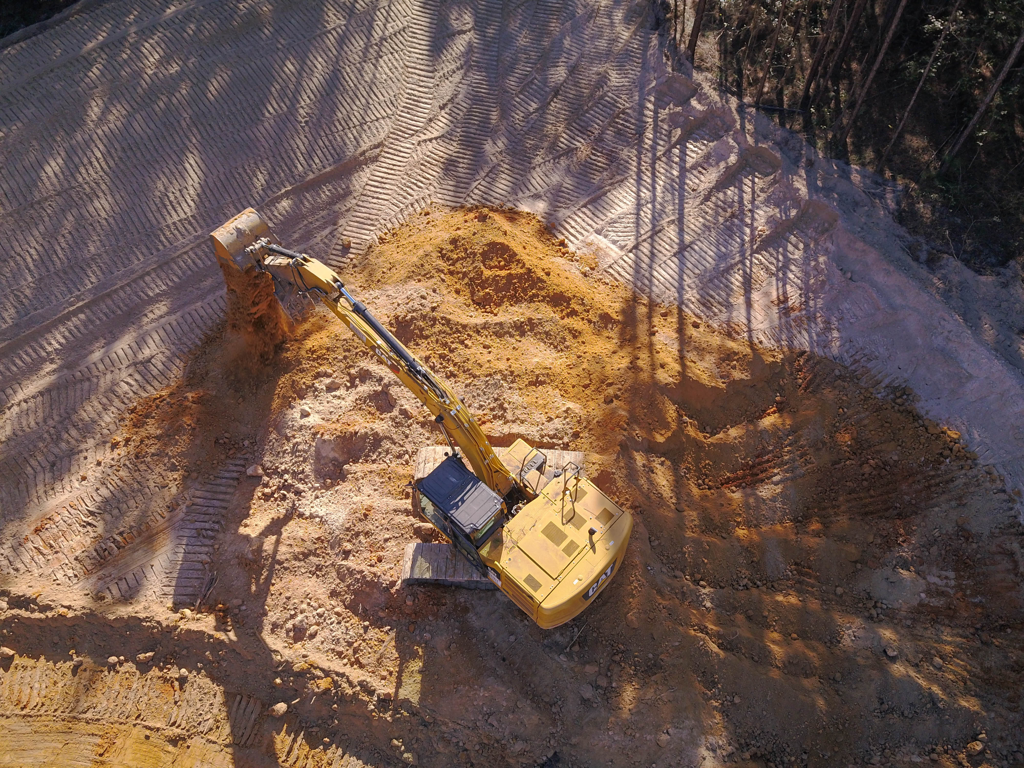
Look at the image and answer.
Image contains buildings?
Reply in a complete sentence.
No, there's no building here.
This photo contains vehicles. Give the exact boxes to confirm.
[209,205,633,628]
